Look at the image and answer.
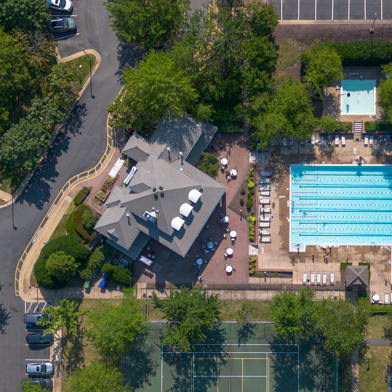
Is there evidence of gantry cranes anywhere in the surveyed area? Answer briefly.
No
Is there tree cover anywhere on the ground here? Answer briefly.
Yes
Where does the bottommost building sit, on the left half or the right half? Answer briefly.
right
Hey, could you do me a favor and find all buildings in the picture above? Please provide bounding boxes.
[94,108,227,261]
[346,265,370,287]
